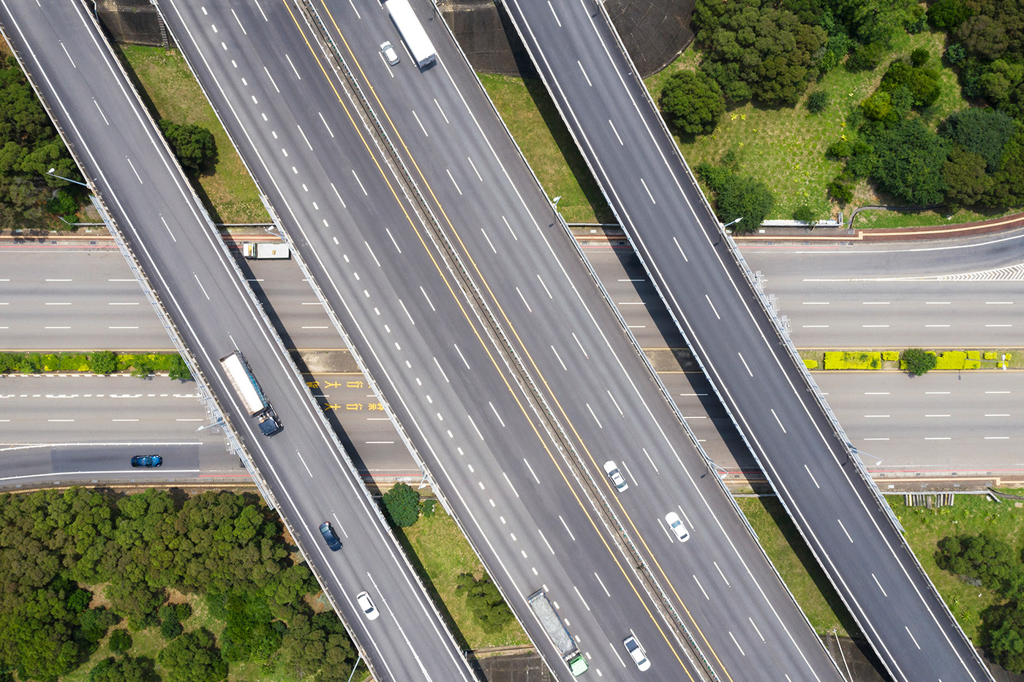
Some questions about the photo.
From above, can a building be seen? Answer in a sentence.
No, the picture doesn't show any building.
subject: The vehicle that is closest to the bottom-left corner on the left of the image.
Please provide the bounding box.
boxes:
[131,454,163,469]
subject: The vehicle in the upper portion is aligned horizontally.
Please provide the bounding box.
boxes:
[243,242,290,259]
